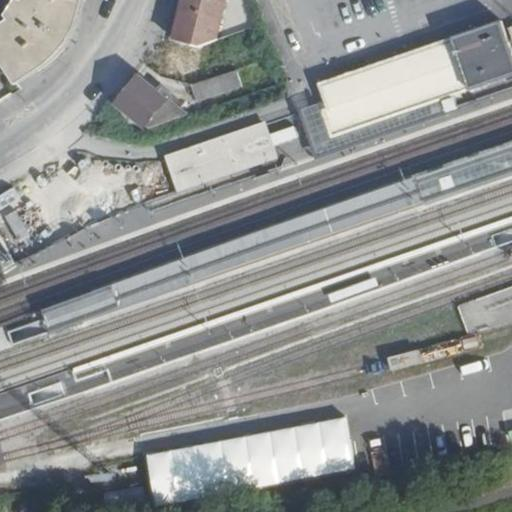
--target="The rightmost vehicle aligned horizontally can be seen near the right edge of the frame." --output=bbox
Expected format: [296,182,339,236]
[460,360,490,376]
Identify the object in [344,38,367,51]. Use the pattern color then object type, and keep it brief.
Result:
white vehicle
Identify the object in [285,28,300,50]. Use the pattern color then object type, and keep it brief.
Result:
white car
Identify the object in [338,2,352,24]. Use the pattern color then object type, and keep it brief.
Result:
white car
